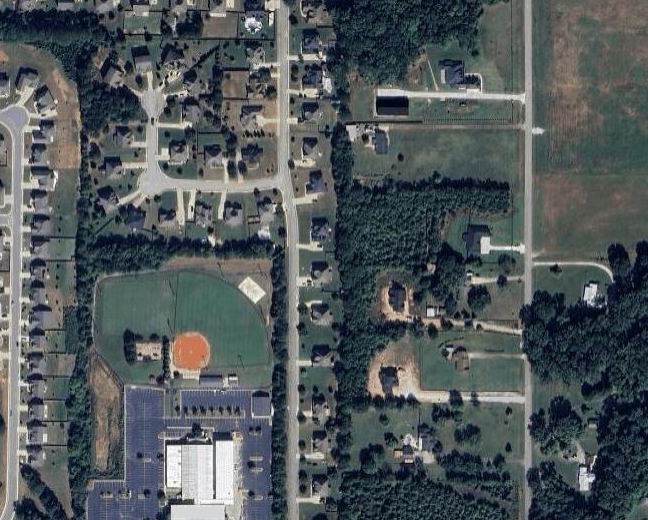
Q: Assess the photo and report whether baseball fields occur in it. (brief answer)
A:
Yes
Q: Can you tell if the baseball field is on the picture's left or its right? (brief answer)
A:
left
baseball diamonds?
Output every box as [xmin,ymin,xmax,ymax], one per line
[170,270,269,387]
